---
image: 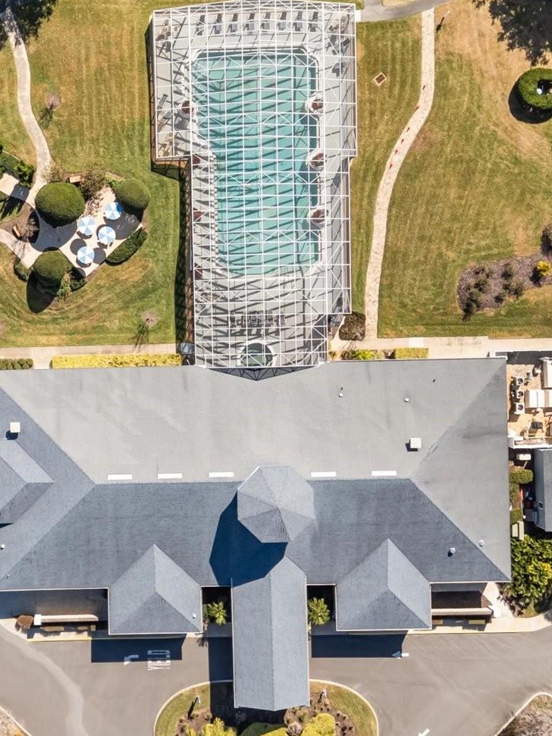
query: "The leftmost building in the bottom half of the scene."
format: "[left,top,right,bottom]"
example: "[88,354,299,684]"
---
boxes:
[0,357,511,710]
